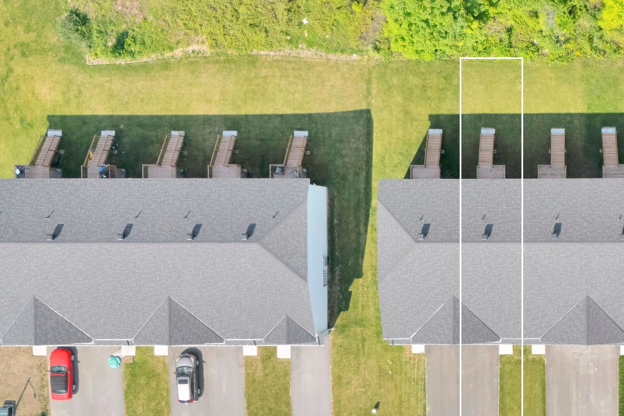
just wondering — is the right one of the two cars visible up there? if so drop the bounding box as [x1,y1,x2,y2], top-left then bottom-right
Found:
[173,353,200,404]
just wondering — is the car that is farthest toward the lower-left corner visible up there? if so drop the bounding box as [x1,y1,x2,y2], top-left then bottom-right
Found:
[47,348,75,402]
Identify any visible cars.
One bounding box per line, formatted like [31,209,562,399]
[173,353,200,404]
[47,348,75,402]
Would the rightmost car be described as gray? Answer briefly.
Yes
